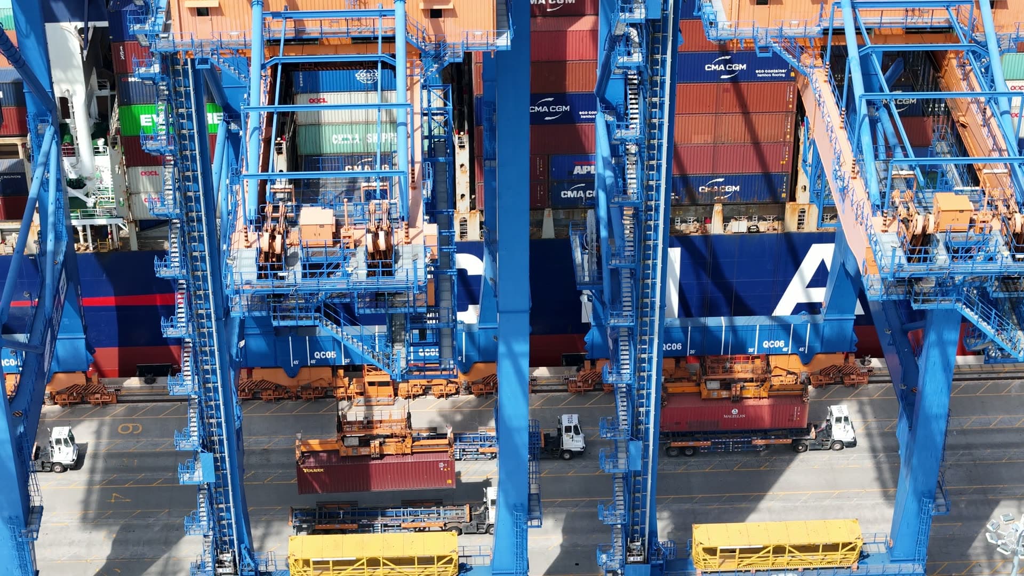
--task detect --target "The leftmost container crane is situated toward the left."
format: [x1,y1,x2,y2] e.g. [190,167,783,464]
[0,0,120,576]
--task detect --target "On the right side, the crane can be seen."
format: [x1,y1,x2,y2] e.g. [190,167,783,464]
[567,0,1024,576]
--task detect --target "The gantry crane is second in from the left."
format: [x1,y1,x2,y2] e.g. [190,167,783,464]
[124,0,546,576]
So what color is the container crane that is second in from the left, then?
blue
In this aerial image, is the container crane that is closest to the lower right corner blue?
Yes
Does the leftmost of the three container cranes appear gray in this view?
No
